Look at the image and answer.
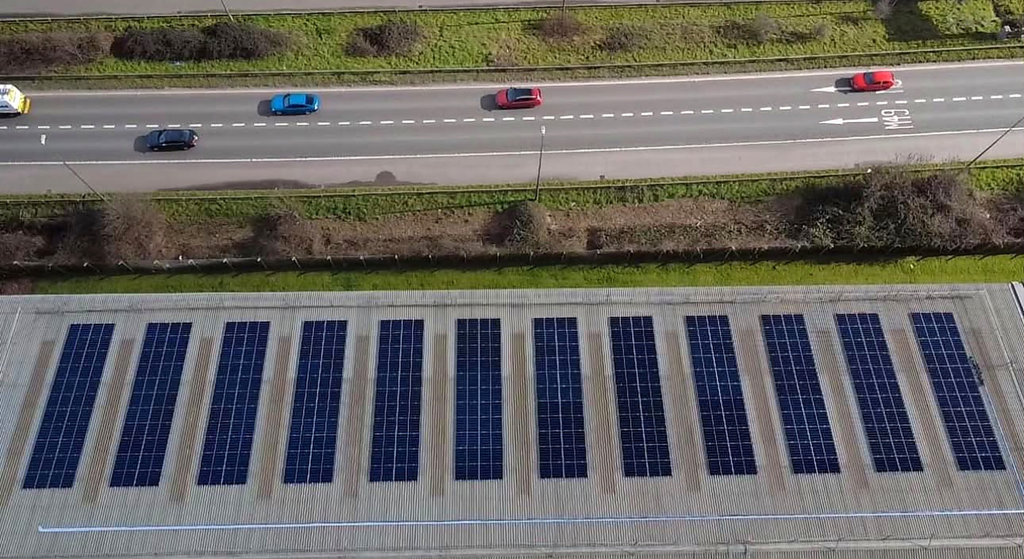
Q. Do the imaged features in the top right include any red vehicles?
Yes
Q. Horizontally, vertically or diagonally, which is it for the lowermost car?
horizontally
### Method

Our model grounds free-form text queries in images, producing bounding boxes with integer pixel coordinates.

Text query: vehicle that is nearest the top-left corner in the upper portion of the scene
[0,88,34,117]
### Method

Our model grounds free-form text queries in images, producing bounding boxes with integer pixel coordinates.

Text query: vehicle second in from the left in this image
[143,127,201,150]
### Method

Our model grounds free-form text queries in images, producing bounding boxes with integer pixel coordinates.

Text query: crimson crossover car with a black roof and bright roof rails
[492,84,543,108]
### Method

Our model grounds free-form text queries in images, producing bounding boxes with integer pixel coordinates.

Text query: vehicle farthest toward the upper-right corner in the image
[846,70,894,91]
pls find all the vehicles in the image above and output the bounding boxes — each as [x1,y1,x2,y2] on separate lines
[846,70,894,91]
[269,91,321,113]
[143,127,201,150]
[492,84,543,108]
[0,88,34,117]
